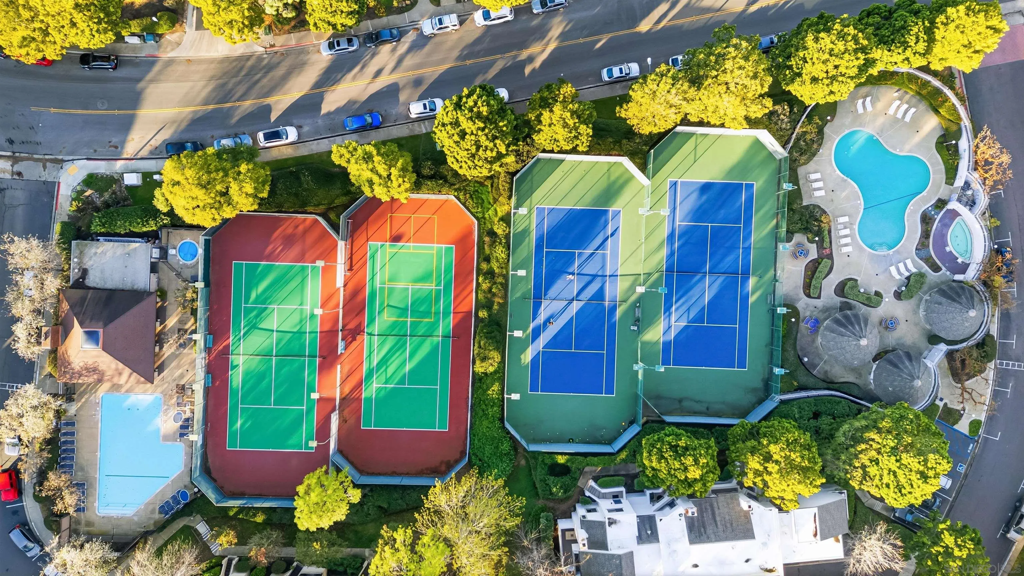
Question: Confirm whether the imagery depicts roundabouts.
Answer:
No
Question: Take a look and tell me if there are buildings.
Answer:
Yes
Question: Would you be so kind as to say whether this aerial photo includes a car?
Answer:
Yes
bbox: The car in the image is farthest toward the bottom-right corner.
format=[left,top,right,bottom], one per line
[998,497,1024,537]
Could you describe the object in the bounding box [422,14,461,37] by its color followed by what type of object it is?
white car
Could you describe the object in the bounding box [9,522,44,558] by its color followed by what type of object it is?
blue car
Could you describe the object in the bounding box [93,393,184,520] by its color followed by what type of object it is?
blue swimming pool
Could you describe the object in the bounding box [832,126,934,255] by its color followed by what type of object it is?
blue swimming pool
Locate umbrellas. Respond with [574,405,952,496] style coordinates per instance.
[872,345,937,404]
[920,283,985,346]
[817,309,879,369]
